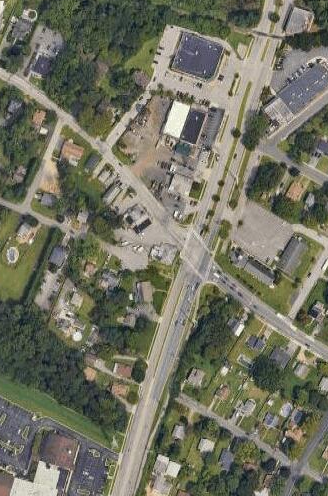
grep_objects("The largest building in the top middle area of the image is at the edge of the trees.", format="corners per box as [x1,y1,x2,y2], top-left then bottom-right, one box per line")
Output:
[171,31,225,83]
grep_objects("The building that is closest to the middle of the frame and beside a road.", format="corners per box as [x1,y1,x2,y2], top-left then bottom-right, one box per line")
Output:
[149,244,175,264]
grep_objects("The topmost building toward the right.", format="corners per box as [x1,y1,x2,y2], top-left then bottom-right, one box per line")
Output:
[287,9,314,35]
